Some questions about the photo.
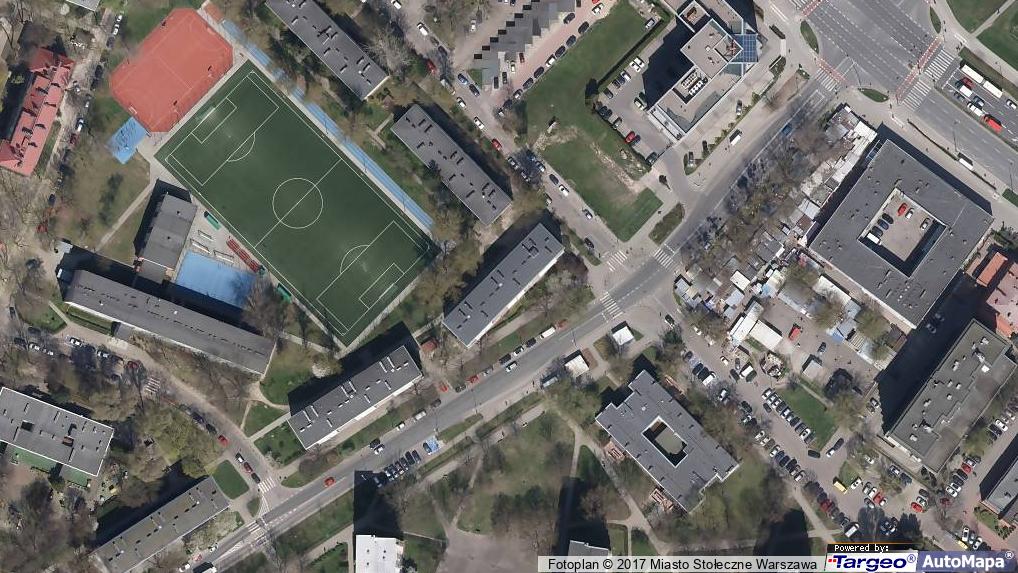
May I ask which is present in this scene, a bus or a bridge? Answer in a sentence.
I can see a bus in this picture.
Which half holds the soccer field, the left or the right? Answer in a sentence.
It is on the left.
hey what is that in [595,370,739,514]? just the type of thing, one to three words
house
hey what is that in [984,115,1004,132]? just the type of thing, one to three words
vehicle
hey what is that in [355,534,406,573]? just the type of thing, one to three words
building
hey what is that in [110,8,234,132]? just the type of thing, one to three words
sports court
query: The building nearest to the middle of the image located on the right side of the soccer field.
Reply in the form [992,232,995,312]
[441,223,565,350]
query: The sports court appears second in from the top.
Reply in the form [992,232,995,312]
[110,116,149,163]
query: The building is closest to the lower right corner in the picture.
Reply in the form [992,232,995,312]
[985,459,1018,530]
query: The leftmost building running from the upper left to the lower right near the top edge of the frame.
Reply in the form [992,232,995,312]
[265,0,389,104]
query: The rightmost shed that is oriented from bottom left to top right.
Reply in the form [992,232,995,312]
[976,252,1008,287]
